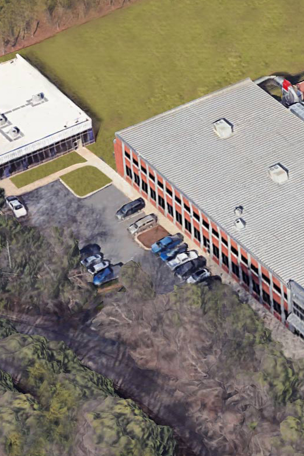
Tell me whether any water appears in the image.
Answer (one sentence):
No, there is no water in the image.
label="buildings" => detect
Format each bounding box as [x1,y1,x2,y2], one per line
[113,78,304,343]
[0,56,93,179]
